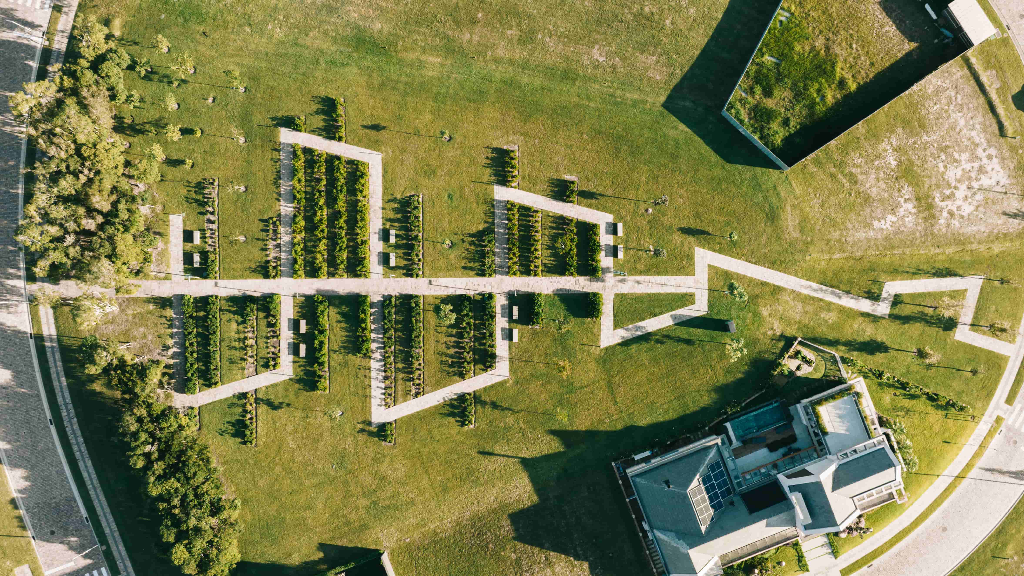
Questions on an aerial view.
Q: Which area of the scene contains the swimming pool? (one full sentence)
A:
Look in the bottom right portion of the view to spot the swimming pool.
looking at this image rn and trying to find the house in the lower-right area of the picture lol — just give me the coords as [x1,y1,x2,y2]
[621,376,908,576]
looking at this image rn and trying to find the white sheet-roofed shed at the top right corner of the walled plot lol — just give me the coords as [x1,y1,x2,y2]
[941,0,996,49]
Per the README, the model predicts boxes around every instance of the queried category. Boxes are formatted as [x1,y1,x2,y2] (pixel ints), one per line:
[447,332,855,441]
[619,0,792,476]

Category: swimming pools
[724,400,787,446]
